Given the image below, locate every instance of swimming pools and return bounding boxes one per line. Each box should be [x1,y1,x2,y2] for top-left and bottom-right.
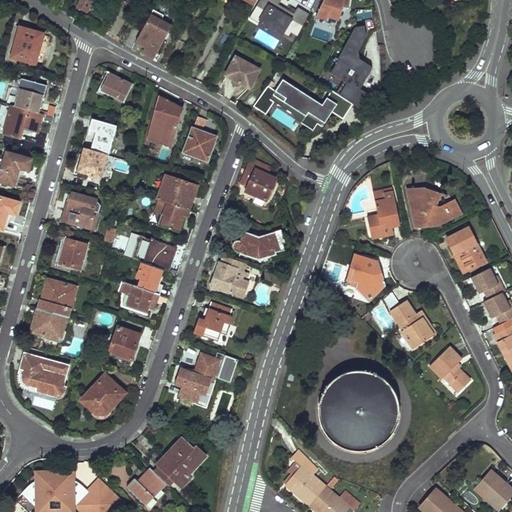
[0,80,6,100]
[61,337,84,358]
[355,11,374,21]
[352,186,368,214]
[372,305,394,331]
[331,264,342,282]
[97,312,114,328]
[310,26,334,42]
[141,196,151,206]
[218,356,238,382]
[157,145,172,160]
[256,282,270,306]
[270,106,296,128]
[113,160,127,173]
[252,28,281,50]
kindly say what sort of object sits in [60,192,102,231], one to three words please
house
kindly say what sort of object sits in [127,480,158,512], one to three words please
building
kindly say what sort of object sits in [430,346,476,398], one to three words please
house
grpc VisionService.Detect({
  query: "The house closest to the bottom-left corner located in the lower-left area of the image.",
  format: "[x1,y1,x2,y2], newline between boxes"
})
[18,471,88,512]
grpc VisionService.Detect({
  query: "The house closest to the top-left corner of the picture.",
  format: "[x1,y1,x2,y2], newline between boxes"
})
[10,24,44,66]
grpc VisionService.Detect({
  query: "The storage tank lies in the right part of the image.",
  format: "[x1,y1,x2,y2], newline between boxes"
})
[319,372,401,454]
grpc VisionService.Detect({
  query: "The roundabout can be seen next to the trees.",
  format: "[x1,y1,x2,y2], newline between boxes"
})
[428,78,504,173]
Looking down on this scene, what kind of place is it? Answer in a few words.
residential area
